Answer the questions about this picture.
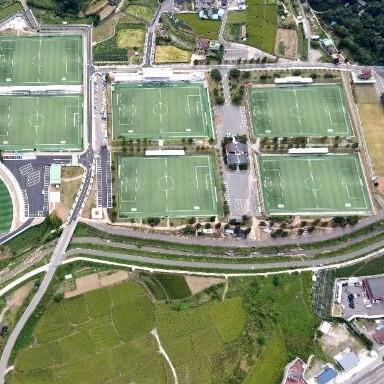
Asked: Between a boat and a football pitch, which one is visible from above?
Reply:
football pitch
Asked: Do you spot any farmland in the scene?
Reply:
Yes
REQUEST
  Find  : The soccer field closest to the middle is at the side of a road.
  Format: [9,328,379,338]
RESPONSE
[117,153,219,218]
